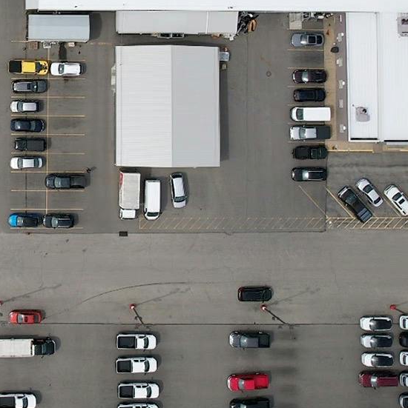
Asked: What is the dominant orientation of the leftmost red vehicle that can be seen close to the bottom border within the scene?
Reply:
from left to right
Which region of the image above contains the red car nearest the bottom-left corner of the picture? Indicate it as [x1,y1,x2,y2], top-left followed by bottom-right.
[9,310,42,324]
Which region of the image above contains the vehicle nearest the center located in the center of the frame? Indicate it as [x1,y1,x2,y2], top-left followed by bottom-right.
[169,172,186,208]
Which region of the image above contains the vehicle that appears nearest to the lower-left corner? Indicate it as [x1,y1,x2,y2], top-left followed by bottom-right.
[0,392,36,408]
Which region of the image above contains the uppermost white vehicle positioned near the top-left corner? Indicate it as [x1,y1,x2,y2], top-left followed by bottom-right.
[49,61,82,76]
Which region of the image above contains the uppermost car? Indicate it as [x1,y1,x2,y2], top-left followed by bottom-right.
[290,32,324,47]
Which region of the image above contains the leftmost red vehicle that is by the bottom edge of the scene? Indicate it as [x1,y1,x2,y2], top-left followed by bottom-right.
[226,373,270,393]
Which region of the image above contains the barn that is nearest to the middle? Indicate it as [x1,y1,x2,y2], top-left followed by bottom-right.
[113,45,220,165]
